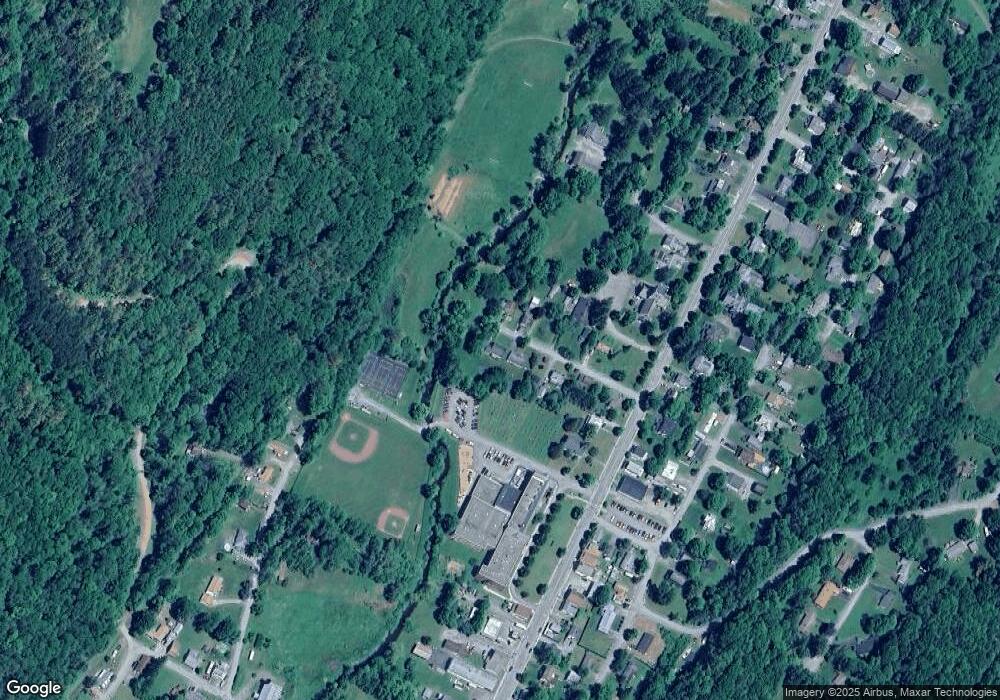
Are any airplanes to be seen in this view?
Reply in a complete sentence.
No, this view has no airplane in it.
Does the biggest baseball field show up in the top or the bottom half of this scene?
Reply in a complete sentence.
The biggest baseball field sits in the bottom half of the picture.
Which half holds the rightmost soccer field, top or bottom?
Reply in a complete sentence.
The rightmost soccer field is in the top half of the image.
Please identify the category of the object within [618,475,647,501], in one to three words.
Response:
building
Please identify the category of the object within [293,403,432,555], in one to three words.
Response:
baseball field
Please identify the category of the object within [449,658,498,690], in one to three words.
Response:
barn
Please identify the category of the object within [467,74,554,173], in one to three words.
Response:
soccer field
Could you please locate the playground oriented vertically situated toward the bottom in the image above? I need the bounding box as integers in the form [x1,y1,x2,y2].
[458,444,474,499]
